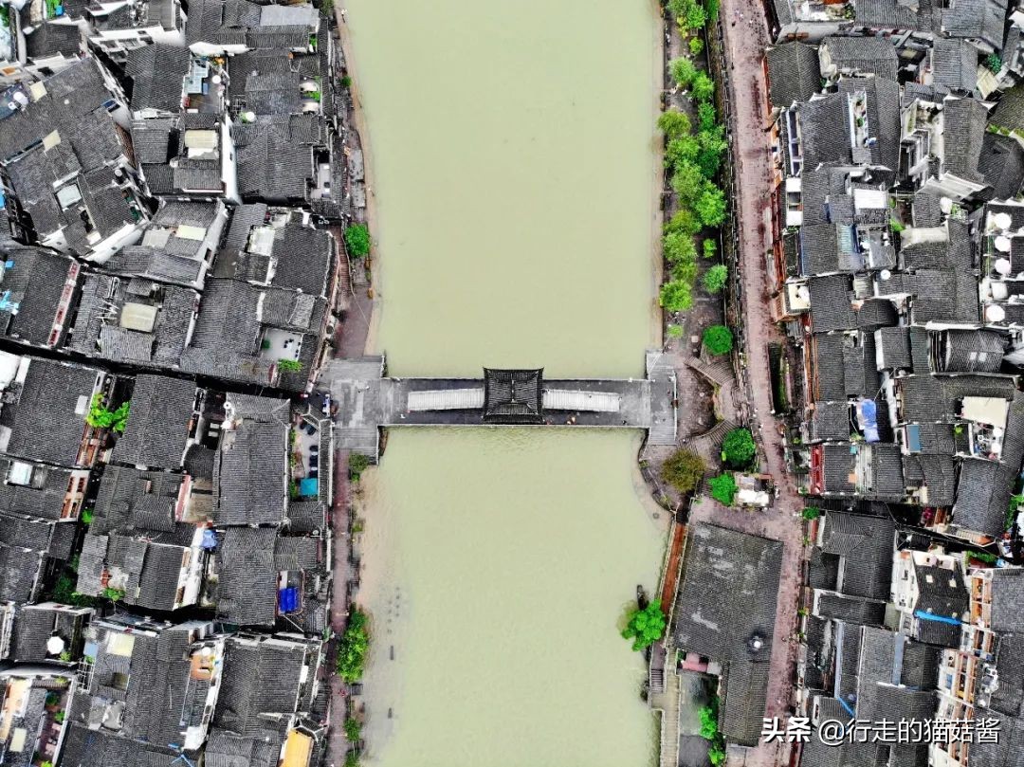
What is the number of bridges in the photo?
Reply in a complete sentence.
I count 1 bridge.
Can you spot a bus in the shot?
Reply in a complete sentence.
No, no bus is visible in the view.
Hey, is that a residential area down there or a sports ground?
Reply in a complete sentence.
This image shows a residential area.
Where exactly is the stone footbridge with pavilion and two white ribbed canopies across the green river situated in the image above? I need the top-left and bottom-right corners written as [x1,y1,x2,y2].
[331,349,679,450]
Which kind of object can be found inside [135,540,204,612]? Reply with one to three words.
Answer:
house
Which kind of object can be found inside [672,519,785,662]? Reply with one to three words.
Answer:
building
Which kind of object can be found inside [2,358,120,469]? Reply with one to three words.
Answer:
house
